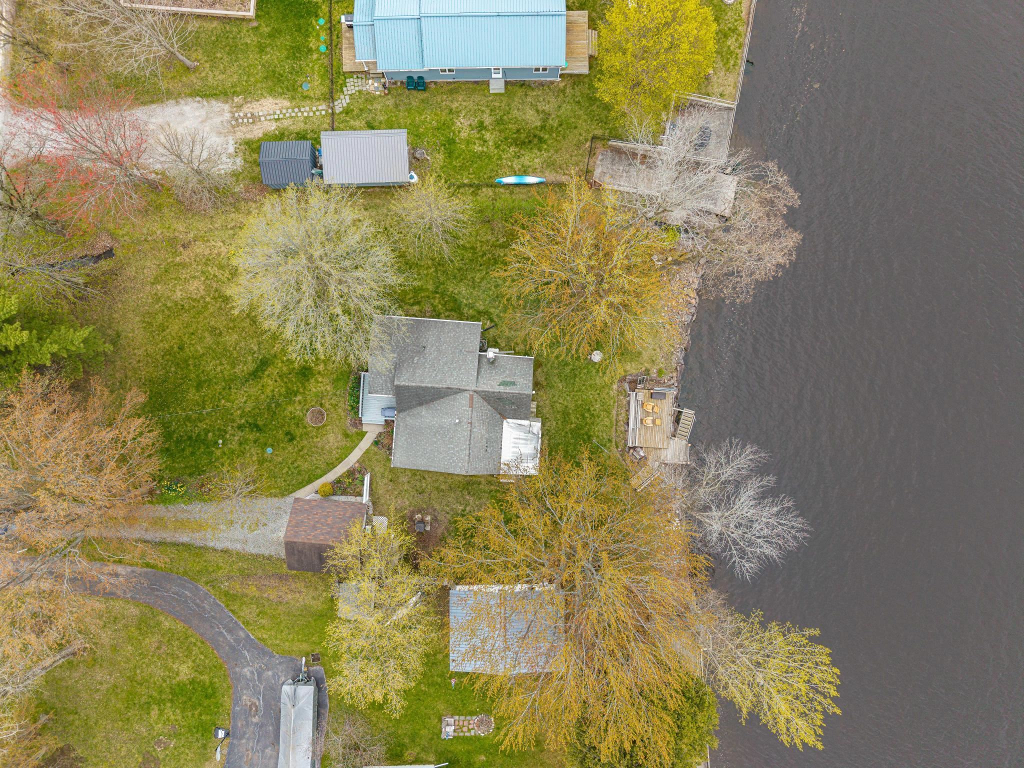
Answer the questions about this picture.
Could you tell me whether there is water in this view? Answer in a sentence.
Yes, there's water in this view.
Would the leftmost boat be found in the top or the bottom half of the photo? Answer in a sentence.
The leftmost boat sits in the bottom half of the picture.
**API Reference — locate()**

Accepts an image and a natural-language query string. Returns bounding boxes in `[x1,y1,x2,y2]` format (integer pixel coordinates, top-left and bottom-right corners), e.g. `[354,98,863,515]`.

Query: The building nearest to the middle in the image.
[361,315,544,477]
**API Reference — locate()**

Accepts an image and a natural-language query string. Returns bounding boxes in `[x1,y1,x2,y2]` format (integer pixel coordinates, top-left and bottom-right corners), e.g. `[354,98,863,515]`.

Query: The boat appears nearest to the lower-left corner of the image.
[283,668,322,768]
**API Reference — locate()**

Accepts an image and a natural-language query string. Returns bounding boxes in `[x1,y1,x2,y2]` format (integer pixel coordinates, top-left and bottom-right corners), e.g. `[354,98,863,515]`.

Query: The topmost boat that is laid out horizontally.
[495,173,546,185]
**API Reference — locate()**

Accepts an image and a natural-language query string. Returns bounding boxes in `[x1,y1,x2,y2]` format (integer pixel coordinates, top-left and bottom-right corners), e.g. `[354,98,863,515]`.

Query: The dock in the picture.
[628,389,699,476]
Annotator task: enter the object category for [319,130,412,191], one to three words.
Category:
shed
